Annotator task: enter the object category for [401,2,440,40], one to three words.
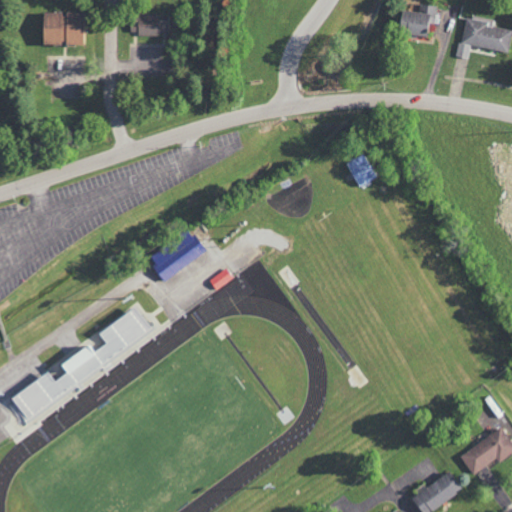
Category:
house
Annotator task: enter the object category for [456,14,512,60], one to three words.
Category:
house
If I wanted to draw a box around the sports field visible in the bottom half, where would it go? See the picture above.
[28,327,285,512]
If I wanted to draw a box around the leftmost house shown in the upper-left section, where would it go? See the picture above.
[43,11,86,46]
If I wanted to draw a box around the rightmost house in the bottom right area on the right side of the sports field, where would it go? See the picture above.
[462,422,512,474]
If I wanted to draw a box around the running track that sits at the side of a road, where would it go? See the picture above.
[0,260,327,512]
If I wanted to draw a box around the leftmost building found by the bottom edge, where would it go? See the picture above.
[414,470,460,512]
